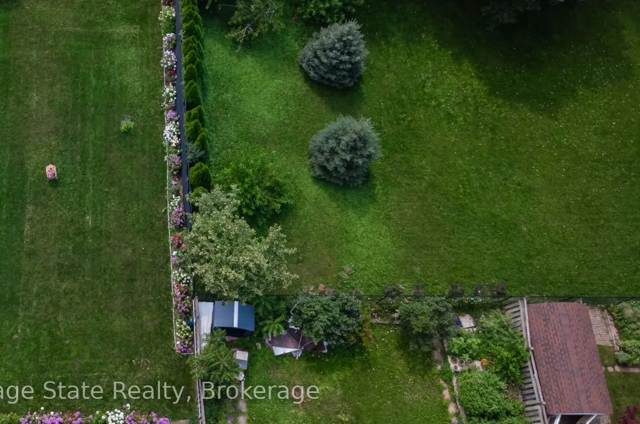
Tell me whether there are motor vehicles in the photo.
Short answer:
No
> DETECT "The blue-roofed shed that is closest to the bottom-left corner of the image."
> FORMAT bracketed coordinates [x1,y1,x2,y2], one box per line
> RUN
[211,299,256,332]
